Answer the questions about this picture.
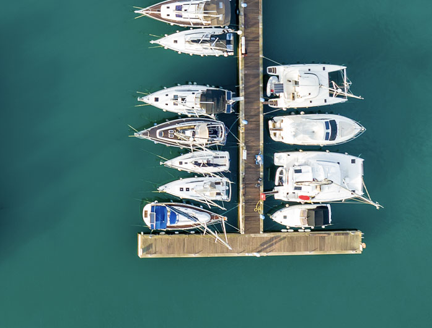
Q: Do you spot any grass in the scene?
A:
No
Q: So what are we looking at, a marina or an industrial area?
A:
marina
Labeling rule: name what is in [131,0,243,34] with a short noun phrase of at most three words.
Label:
boat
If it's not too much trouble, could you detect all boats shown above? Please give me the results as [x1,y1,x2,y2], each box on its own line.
[264,111,370,147]
[262,60,366,111]
[266,202,337,232]
[156,175,240,207]
[262,150,383,203]
[266,76,278,96]
[147,147,238,183]
[134,117,242,153]
[130,201,242,243]
[132,82,244,119]
[275,166,285,188]
[139,25,243,59]
[131,0,243,34]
